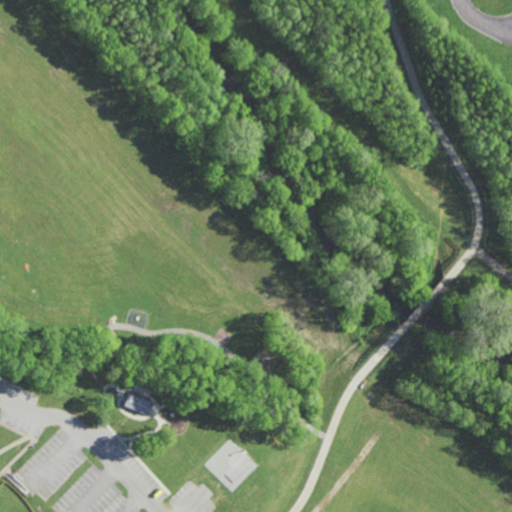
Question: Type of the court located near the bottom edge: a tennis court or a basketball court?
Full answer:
The court located near the bottom edge in the image is a basketball court.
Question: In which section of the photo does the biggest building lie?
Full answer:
The biggest building sits in the bottom left section of the image.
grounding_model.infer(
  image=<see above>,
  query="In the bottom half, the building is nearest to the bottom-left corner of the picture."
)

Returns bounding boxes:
[126,393,154,417]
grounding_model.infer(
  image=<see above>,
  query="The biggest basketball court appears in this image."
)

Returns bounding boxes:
[206,440,258,492]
